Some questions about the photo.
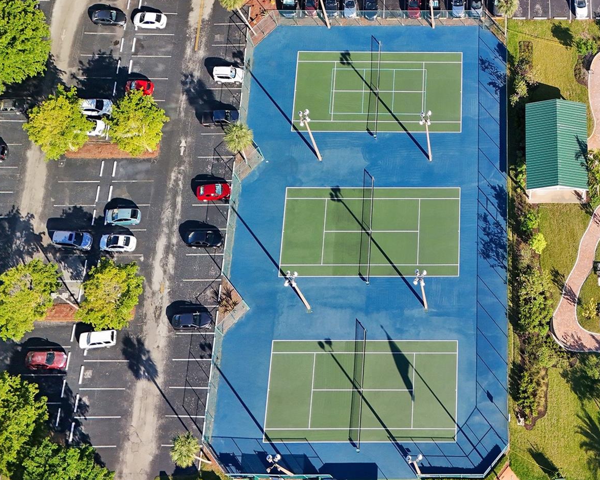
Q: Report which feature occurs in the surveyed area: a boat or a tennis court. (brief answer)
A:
tennis court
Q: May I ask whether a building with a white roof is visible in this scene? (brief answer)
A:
No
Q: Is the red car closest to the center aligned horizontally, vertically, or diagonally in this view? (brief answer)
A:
horizontally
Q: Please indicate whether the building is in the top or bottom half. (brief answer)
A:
top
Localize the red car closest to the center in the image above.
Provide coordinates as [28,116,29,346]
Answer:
[194,182,232,201]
